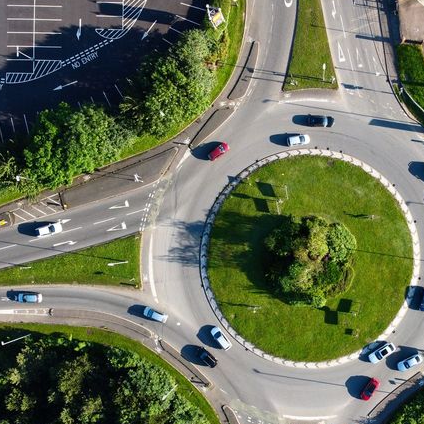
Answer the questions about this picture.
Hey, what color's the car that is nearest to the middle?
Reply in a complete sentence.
In this view, the car that is nearest to the middle is red.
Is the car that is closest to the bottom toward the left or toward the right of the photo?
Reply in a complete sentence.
The car that is closest to the bottom is on the right side of the image.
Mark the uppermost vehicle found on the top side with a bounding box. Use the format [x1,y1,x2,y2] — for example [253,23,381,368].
[307,113,334,127]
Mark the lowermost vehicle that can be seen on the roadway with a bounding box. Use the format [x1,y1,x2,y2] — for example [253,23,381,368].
[360,377,380,401]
